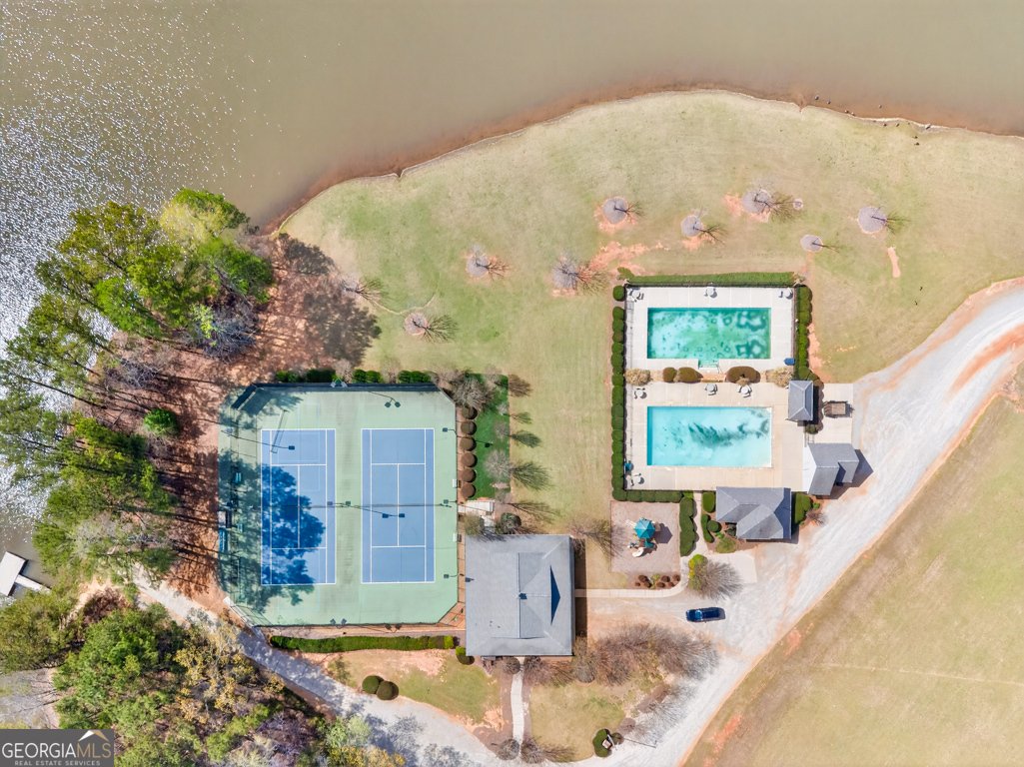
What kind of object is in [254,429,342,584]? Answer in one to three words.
tennis court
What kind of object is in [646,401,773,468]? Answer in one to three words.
swimming pool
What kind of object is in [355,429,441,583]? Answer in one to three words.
tennis court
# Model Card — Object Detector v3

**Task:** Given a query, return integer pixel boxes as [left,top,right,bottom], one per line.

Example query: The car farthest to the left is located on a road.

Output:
[687,608,721,624]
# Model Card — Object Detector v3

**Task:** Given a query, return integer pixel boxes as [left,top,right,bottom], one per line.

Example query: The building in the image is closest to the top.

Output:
[785,380,814,421]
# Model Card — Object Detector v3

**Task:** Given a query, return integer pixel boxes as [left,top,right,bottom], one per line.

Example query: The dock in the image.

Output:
[0,552,56,596]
